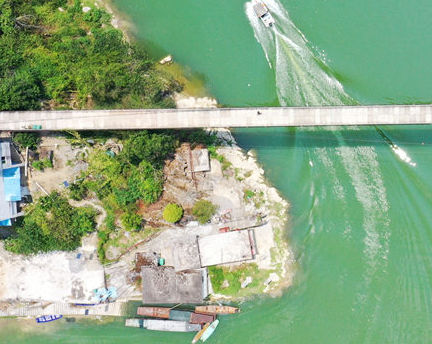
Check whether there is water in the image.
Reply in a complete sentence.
Yes, the picture does contain water.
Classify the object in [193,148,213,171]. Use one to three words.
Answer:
shed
